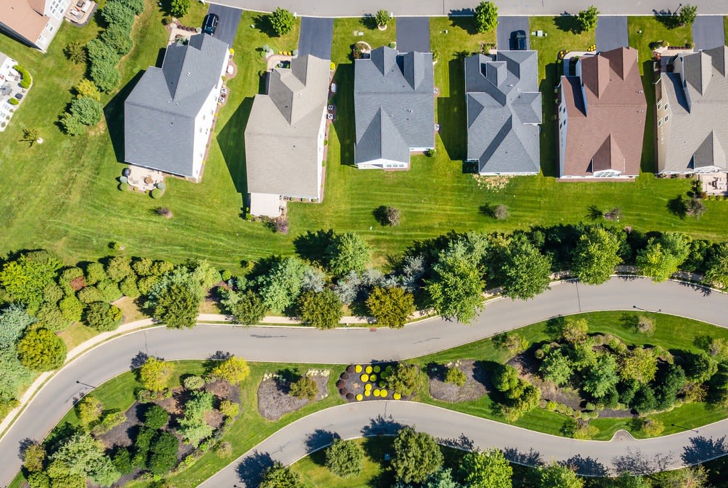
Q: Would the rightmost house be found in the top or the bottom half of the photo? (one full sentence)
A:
The top half of the photo is where the rightmost house is.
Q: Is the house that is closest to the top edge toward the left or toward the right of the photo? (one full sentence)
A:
It is on the left.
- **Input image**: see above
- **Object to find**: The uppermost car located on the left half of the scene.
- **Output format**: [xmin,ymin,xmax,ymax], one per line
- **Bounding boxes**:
[201,8,219,38]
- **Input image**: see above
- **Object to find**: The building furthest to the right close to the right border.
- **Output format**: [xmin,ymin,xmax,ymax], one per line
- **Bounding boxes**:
[656,42,728,180]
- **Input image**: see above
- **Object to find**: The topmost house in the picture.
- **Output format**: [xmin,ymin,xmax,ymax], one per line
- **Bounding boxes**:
[0,0,90,49]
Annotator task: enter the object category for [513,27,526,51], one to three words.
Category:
vehicle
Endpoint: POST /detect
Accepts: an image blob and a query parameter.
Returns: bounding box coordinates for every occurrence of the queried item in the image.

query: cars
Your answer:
[201,8,219,38]
[513,27,526,51]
